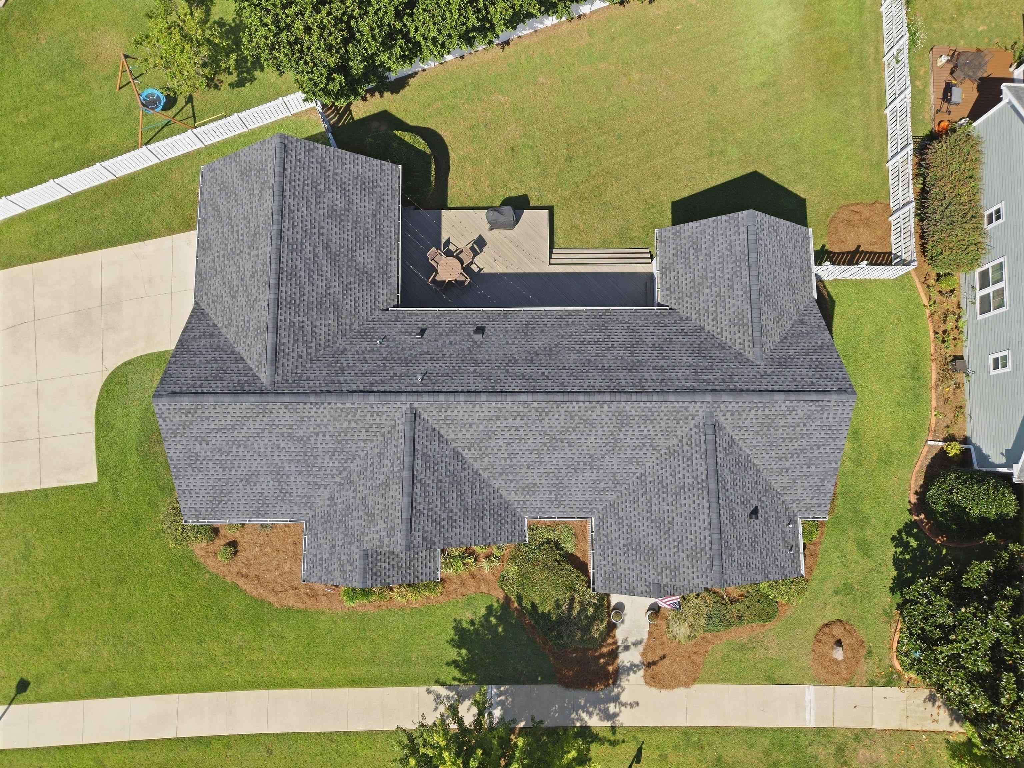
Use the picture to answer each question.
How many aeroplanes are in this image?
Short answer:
zero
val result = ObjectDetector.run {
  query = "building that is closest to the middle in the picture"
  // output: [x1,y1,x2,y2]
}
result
[152,134,858,598]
